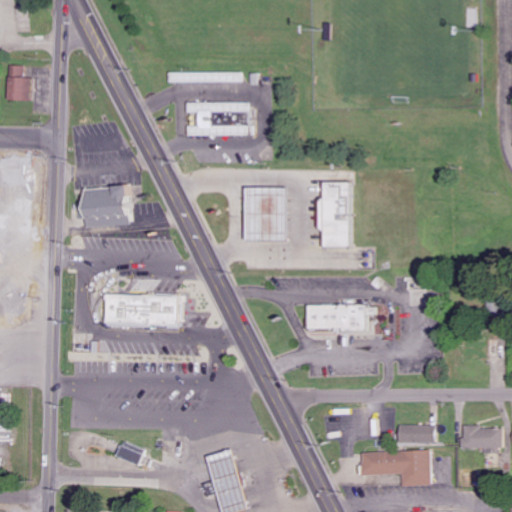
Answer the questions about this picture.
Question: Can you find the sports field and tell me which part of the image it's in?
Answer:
top right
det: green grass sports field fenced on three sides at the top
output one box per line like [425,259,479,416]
[336,0,472,97]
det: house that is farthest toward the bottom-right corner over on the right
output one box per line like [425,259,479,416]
[460,425,502,450]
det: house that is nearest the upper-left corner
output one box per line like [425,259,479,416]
[6,65,36,102]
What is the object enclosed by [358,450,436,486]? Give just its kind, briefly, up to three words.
building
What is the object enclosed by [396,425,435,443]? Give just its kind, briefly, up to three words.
house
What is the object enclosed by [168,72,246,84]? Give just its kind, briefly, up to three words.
shed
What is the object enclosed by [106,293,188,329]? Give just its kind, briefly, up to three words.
building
